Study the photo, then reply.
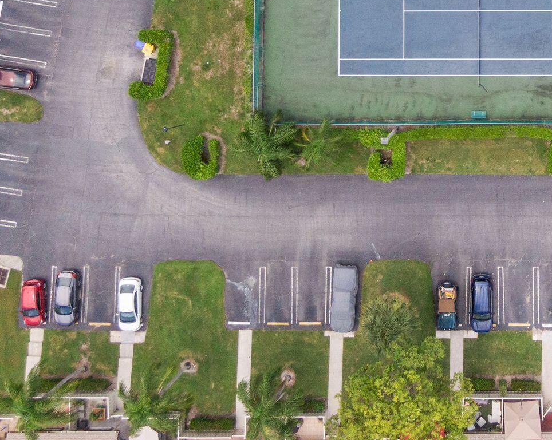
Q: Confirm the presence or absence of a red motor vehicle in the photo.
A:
Yes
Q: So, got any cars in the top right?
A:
No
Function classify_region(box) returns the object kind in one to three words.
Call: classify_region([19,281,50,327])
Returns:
car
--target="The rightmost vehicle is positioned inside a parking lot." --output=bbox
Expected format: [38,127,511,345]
[467,274,496,331]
